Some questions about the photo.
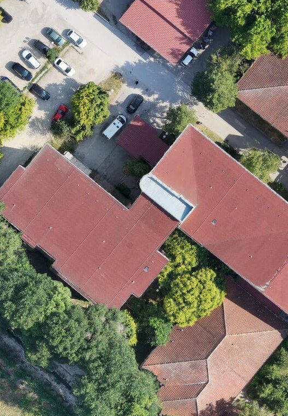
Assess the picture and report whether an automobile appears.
Yes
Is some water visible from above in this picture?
No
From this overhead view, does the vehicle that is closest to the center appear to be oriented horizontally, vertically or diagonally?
diagonally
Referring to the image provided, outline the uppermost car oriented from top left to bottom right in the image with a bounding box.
[0,5,16,25]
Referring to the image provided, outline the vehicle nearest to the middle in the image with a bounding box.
[100,115,126,140]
